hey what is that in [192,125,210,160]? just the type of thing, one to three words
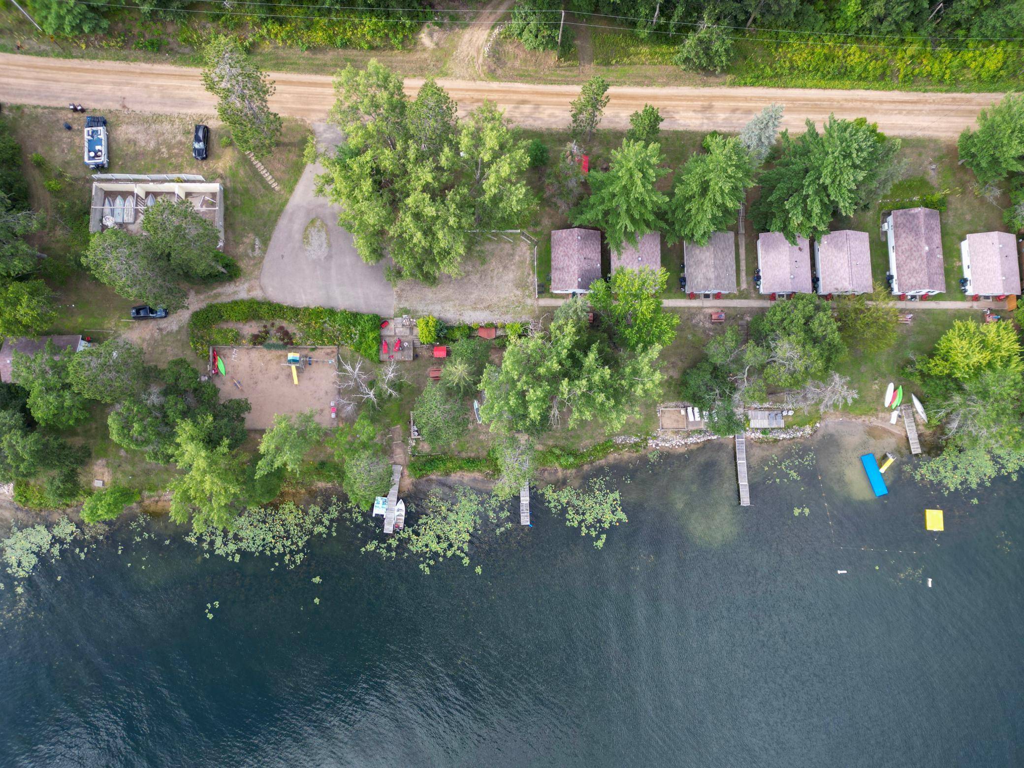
car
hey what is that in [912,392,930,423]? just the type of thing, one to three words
boat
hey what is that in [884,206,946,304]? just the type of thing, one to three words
house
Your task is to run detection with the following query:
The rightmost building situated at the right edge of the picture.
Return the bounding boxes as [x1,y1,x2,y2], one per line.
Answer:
[959,230,1021,304]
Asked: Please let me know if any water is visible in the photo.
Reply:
Yes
